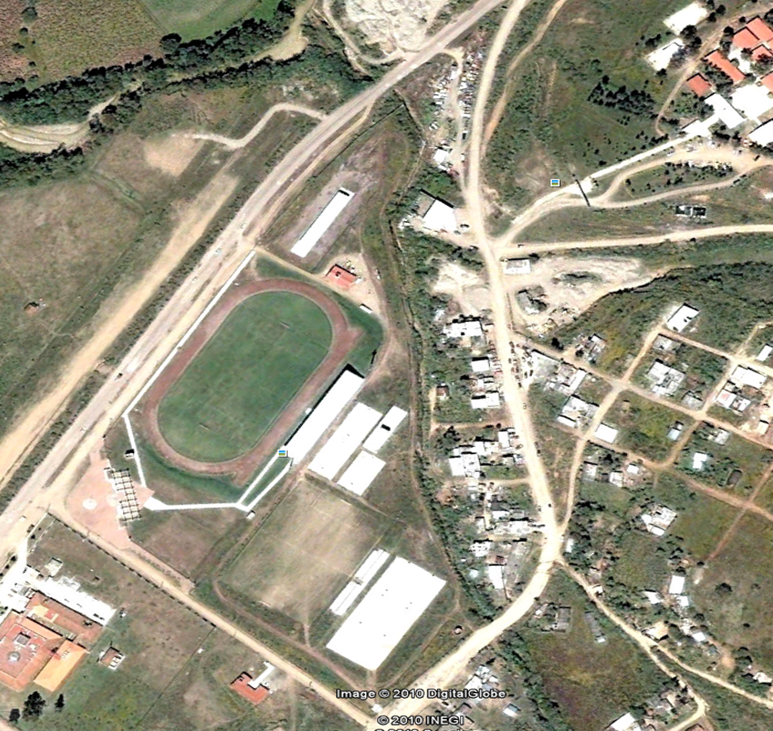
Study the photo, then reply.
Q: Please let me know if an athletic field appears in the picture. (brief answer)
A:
Yes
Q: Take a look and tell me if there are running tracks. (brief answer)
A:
Yes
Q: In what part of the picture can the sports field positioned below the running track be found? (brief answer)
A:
bottom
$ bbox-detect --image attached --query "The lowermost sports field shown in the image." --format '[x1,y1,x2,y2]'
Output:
[230,480,392,622]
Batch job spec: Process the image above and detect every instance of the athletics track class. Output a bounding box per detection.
[151,271,362,483]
